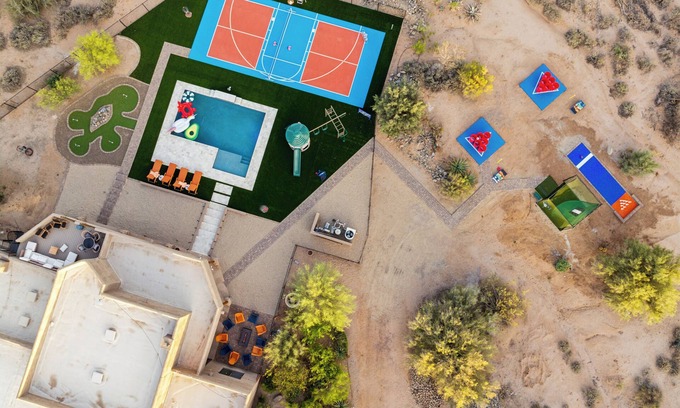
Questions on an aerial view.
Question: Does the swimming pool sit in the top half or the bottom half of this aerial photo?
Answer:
top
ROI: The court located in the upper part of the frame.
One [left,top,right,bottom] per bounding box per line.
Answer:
[188,0,386,107]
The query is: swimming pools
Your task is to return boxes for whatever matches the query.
[151,80,278,191]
